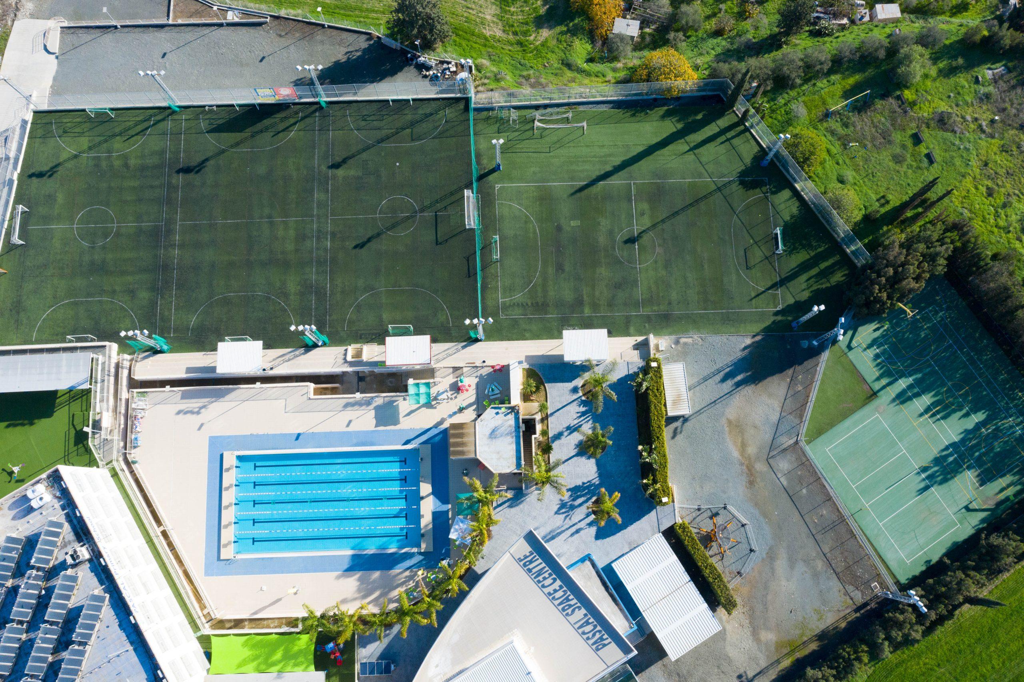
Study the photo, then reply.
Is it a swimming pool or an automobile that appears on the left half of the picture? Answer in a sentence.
The one visible on the left half of the picture is a swimming pool.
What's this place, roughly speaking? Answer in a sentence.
The picture captures a sports ground.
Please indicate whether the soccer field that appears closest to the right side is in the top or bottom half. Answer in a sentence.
The soccer field that appears closest to the right side sits in the top half of the picture.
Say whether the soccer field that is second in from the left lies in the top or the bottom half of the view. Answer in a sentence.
Seen from above, the soccer field that is second in from the left lies in the top half of the view.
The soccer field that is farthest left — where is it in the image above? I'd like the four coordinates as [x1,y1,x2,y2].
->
[0,107,176,356]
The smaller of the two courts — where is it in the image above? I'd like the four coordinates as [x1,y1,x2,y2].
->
[808,338,975,584]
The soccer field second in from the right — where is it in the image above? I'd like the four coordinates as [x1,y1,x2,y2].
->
[321,98,481,347]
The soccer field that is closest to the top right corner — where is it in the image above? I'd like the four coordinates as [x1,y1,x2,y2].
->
[473,102,860,342]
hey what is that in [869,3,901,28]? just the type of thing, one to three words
shed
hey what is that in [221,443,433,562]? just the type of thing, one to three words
swimming pool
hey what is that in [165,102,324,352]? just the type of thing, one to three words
soccer field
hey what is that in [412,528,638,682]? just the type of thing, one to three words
building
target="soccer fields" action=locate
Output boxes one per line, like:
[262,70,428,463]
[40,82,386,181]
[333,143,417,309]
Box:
[321,98,481,347]
[165,102,324,352]
[0,107,176,356]
[473,102,860,342]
